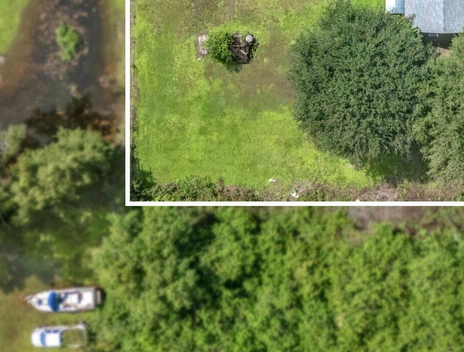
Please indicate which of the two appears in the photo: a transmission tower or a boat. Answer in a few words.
boat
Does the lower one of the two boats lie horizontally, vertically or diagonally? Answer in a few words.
horizontally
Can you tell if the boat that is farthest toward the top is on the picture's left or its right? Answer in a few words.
left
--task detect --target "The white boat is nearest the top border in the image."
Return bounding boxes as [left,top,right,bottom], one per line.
[26,283,103,315]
